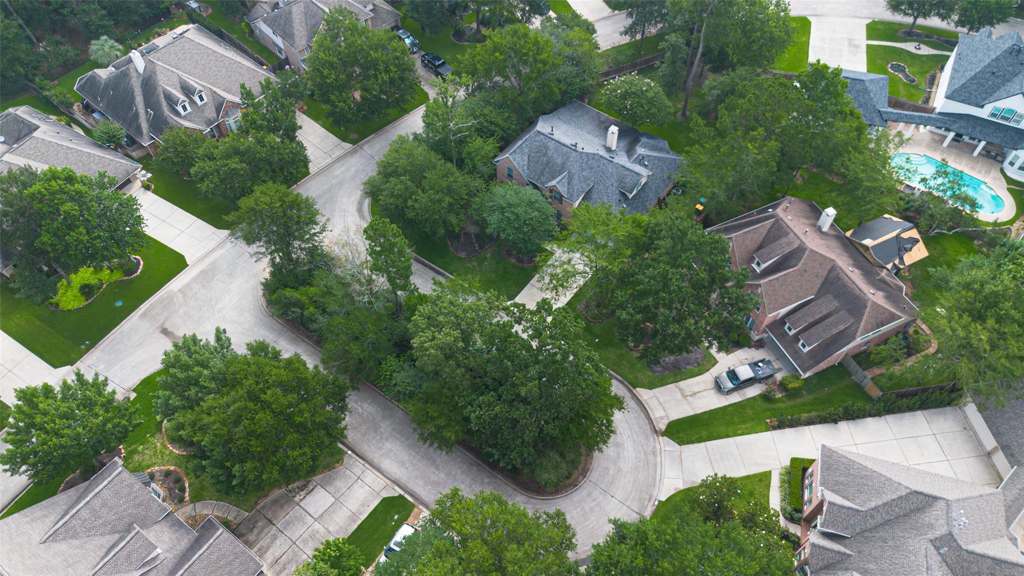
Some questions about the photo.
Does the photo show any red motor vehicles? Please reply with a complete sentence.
No, no red motor vehicle is visible in the view.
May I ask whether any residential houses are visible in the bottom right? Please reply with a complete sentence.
Yes, you'll find a residential house in the bottom right.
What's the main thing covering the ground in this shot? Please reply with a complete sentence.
What you mostly see from above here is trees.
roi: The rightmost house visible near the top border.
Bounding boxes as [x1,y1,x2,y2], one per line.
[880,13,1024,181]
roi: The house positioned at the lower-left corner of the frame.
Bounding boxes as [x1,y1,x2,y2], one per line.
[0,456,268,576]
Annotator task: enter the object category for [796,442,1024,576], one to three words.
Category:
house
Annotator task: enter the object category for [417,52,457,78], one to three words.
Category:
truck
